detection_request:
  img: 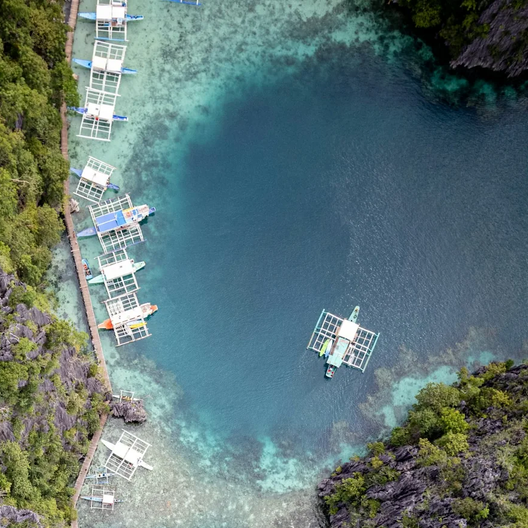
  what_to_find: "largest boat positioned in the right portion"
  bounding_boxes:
[307,306,380,379]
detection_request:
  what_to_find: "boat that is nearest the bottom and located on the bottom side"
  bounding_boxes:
[81,484,125,510]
